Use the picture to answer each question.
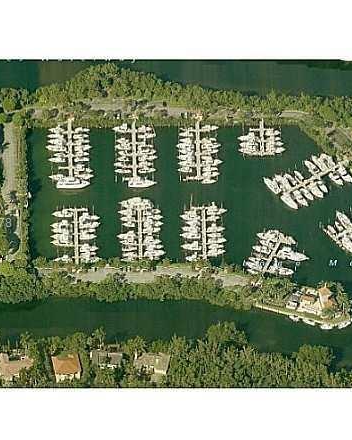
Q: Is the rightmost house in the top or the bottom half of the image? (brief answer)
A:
bottom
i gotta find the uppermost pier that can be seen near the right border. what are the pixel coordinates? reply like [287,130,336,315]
[268,160,347,208]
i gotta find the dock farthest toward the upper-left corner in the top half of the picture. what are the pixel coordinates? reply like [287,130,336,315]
[55,116,86,181]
